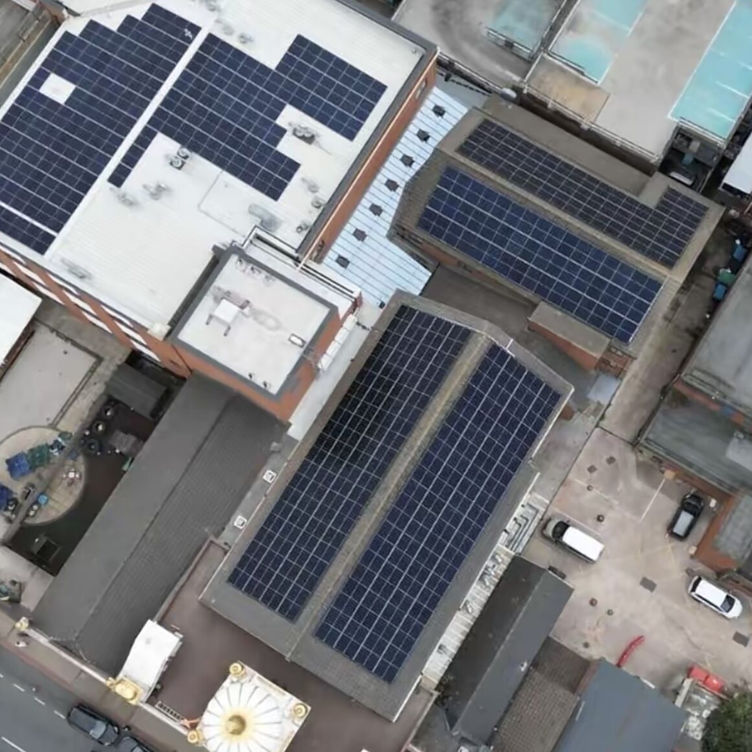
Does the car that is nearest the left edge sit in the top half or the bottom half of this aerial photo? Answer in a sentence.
You can find the car that is nearest the left edge in the bottom half.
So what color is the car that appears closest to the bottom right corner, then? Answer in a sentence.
From above, the car that appears closest to the bottom right corner appears white.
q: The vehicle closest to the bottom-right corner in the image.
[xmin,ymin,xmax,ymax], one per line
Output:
[684,572,744,621]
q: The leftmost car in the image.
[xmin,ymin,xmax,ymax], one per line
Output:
[62,701,124,748]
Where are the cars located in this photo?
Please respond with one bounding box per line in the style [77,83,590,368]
[114,735,157,752]
[684,572,744,621]
[62,701,124,748]
[541,518,607,563]
[665,491,707,544]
